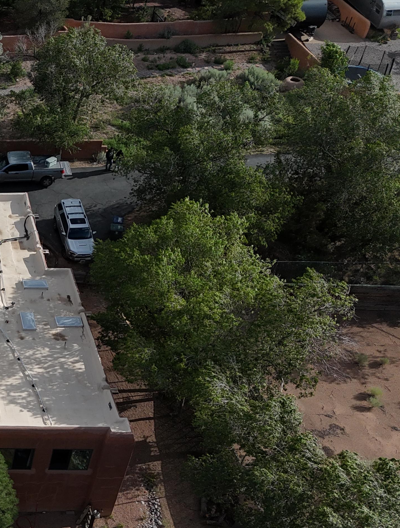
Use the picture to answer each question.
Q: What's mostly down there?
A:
trees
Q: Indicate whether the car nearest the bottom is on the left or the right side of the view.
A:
left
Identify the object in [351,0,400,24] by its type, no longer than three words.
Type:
trailer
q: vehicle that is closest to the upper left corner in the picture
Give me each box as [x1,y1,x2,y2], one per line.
[0,148,74,187]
